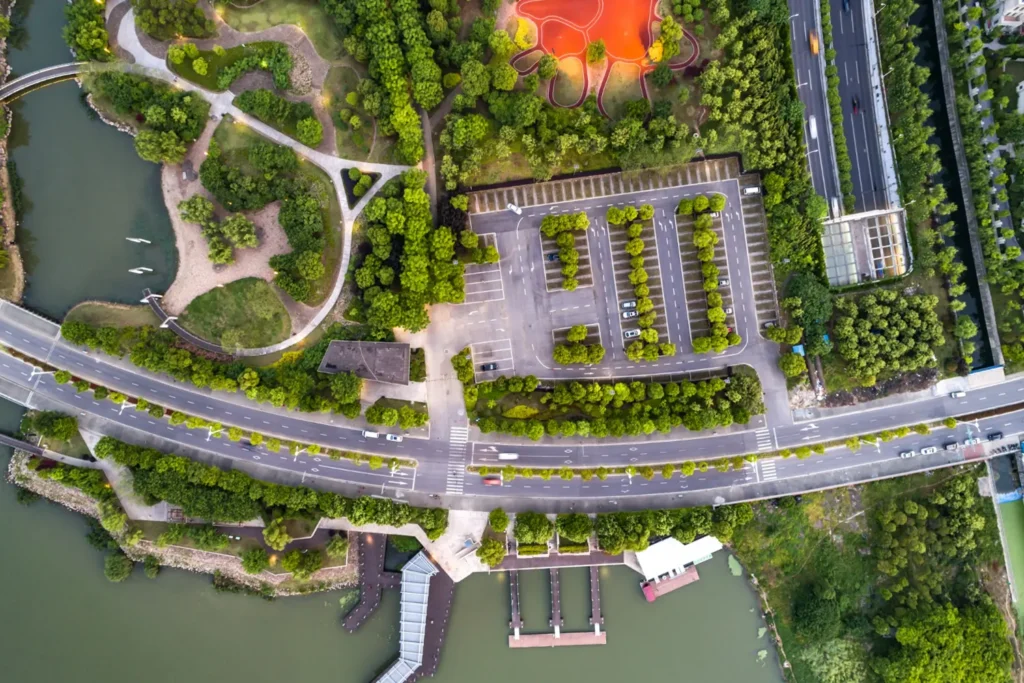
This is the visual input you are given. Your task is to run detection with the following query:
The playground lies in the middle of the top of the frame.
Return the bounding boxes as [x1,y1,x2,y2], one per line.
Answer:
[506,0,700,128]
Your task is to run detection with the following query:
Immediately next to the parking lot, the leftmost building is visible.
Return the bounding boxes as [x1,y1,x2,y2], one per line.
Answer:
[317,339,411,389]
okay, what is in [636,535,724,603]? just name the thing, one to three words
building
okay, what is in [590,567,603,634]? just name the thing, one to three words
pier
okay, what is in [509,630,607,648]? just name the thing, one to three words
pier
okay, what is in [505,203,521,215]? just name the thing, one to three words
vehicle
